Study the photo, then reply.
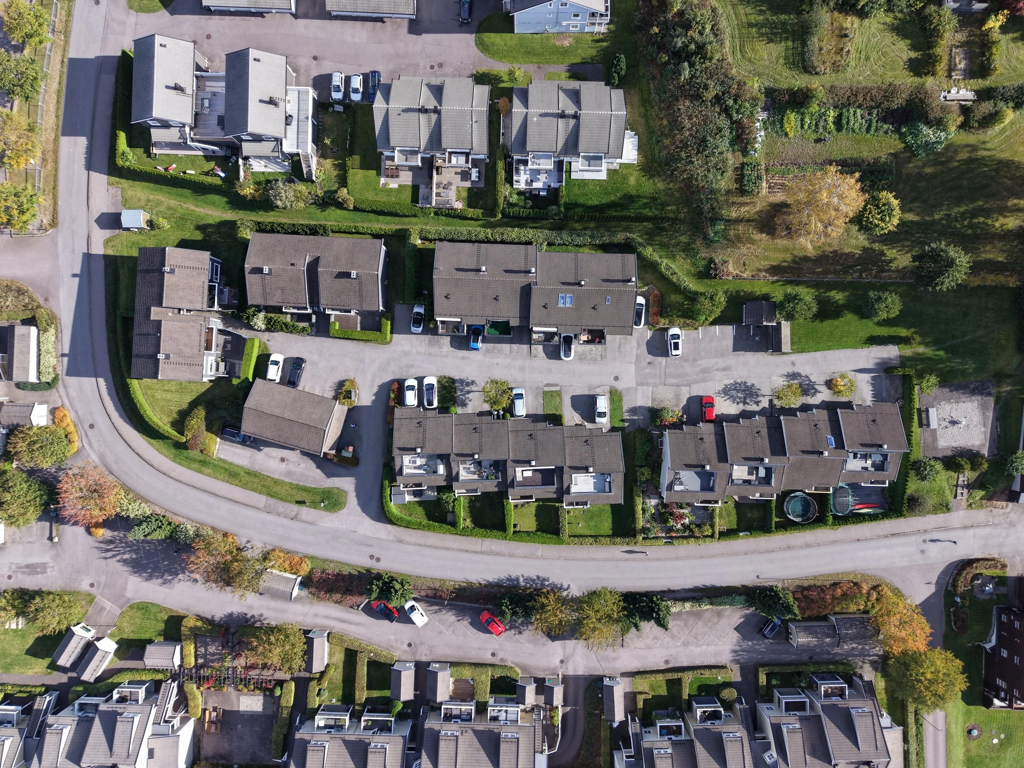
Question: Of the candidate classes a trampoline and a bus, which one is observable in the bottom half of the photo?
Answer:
trampoline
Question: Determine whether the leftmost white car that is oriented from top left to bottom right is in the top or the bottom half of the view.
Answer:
bottom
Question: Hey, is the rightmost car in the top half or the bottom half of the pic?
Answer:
bottom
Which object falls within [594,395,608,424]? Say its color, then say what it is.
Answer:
white car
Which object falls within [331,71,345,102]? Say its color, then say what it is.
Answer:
white car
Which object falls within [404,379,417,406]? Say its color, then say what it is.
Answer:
white vehicle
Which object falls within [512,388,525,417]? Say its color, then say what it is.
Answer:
white vehicle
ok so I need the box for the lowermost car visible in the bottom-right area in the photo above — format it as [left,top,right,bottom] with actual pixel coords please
[759,614,783,641]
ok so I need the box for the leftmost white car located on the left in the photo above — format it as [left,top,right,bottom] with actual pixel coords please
[268,354,284,382]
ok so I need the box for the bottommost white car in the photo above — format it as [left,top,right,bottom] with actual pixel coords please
[405,600,428,628]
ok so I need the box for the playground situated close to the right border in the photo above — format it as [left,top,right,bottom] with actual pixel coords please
[918,379,997,458]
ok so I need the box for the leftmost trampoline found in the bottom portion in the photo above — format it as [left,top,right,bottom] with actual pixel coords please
[785,494,817,524]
